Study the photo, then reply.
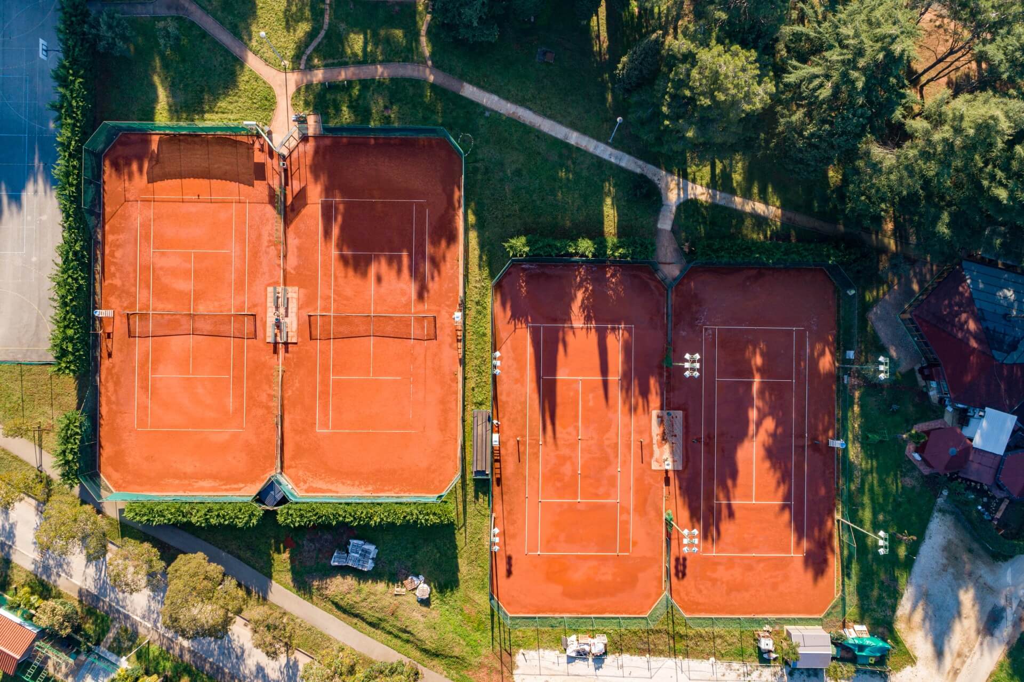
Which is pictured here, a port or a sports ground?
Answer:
sports ground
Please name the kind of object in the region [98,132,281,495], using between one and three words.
tennis court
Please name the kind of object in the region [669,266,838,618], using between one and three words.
tennis court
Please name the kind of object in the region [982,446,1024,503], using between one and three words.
building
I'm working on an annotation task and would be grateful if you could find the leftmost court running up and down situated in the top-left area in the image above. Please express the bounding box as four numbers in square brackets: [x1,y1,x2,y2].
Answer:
[0,0,69,364]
